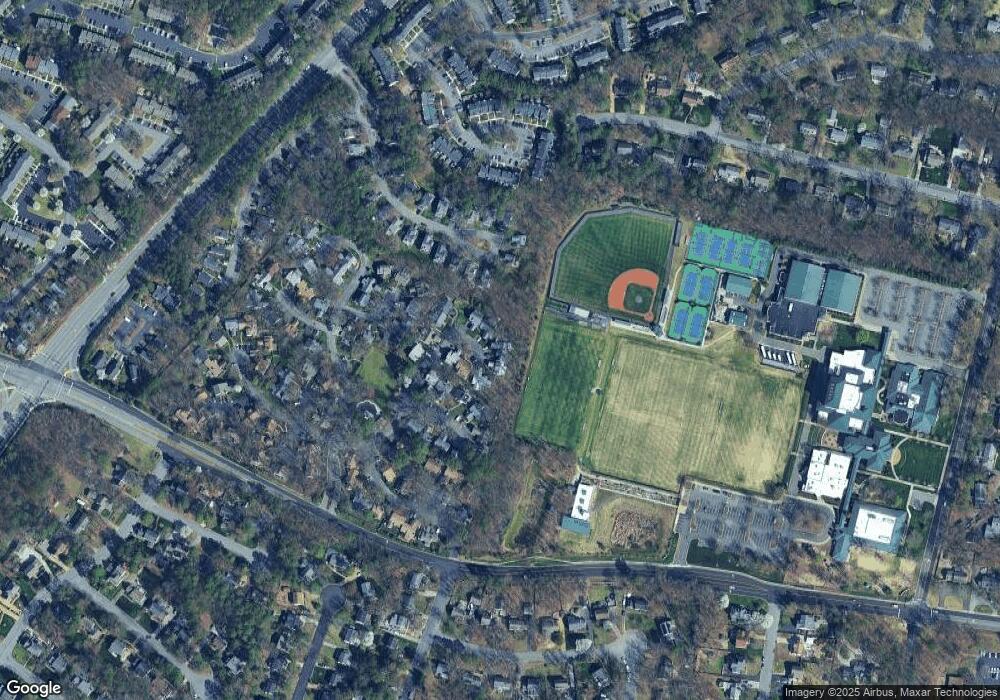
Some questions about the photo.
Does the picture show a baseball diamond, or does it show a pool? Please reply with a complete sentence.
Looking from above, you can make out a baseball diamond.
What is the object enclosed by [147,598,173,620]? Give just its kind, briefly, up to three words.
house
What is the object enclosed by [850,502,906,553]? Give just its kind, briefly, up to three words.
building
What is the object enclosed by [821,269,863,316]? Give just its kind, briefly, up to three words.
building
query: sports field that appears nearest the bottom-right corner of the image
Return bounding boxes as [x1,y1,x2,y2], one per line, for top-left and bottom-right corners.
[584,336,803,490]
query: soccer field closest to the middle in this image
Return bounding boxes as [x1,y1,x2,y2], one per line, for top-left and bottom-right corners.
[516,317,606,448]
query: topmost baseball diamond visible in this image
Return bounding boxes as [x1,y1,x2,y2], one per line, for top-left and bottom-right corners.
[550,207,676,333]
